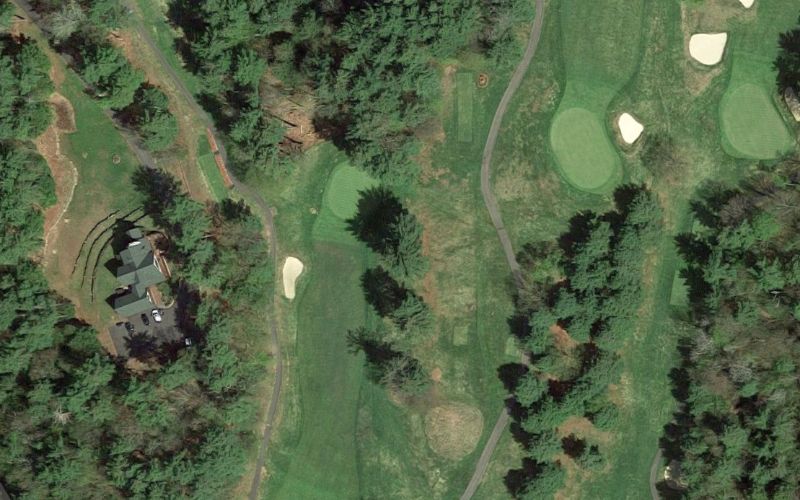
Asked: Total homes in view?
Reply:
1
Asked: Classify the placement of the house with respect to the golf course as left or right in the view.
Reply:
left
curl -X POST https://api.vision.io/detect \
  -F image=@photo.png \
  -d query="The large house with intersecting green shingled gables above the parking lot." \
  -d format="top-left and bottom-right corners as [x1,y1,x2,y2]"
[112,229,171,319]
